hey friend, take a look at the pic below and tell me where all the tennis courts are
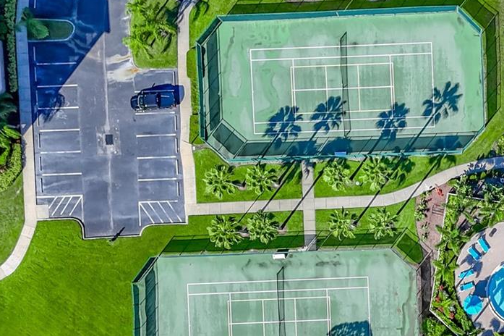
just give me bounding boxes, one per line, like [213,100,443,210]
[201,10,486,163]
[137,248,420,336]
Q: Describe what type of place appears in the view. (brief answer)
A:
sports ground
